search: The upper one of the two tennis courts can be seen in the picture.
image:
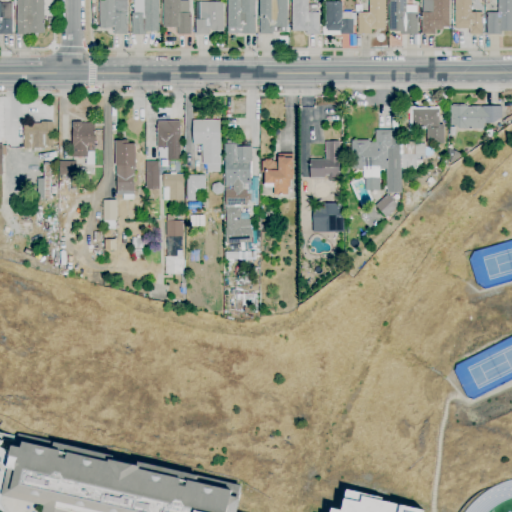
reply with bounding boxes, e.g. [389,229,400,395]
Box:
[470,240,512,288]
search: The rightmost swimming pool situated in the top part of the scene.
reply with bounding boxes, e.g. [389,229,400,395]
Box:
[352,178,372,203]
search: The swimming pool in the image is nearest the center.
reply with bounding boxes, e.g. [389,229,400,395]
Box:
[308,235,333,256]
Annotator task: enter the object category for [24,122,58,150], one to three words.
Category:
building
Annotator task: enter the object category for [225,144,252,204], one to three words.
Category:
house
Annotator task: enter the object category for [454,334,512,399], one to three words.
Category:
tennis court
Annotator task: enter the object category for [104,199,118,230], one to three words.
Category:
barn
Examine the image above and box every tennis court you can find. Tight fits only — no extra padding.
[470,240,512,288]
[454,334,512,399]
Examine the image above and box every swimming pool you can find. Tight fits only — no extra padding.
[308,235,333,256]
[352,178,372,203]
